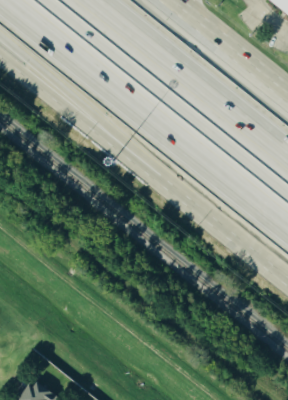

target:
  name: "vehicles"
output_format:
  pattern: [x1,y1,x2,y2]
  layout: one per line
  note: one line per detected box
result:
[124,85,133,93]
[234,122,244,130]
[213,38,222,46]
[242,52,250,60]
[268,38,276,48]
[246,124,254,132]
[64,44,72,52]
[172,63,182,71]
[98,73,108,81]
[224,102,233,110]
[40,44,54,57]
[166,136,176,144]
[84,30,93,38]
